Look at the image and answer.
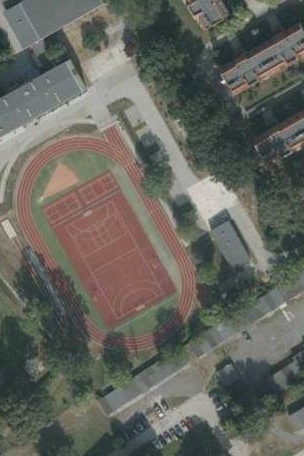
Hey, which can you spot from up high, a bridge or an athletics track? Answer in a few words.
athletics track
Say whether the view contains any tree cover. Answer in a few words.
Yes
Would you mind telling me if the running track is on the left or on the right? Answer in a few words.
left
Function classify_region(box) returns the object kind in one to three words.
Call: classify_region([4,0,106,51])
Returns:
building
